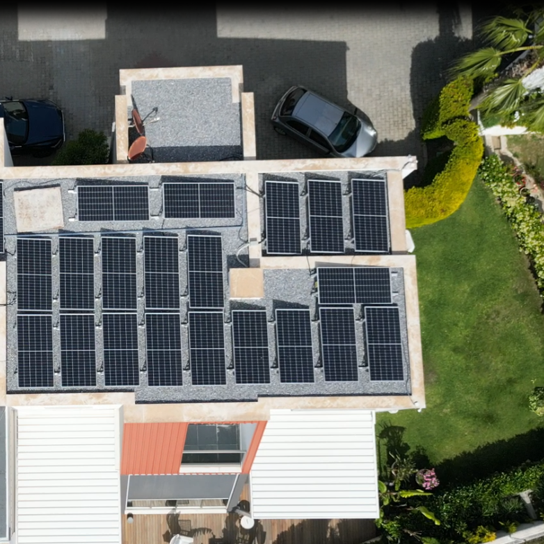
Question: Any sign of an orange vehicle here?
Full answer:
No, there's no orange vehicle here.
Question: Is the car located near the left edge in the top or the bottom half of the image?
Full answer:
Seen from above, the car located near the left edge lies in the top half of the view.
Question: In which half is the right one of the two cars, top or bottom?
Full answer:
The top half of the photo is where the right one of the two cars is.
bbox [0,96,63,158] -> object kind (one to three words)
car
